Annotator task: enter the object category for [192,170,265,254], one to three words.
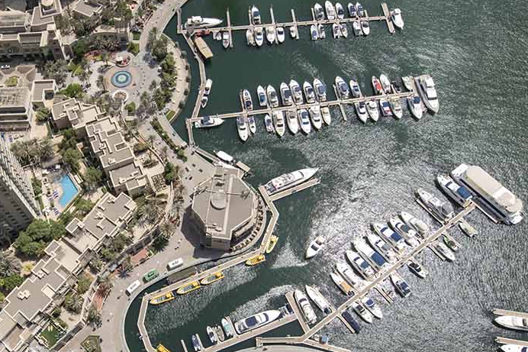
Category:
building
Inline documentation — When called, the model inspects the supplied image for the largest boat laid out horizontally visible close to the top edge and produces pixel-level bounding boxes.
[185,15,223,30]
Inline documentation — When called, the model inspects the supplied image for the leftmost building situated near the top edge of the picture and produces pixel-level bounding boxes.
[0,0,69,58]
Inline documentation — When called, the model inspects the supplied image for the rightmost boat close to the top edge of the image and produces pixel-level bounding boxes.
[391,8,404,29]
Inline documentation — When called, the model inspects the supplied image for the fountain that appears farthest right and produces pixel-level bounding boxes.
[111,70,132,88]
